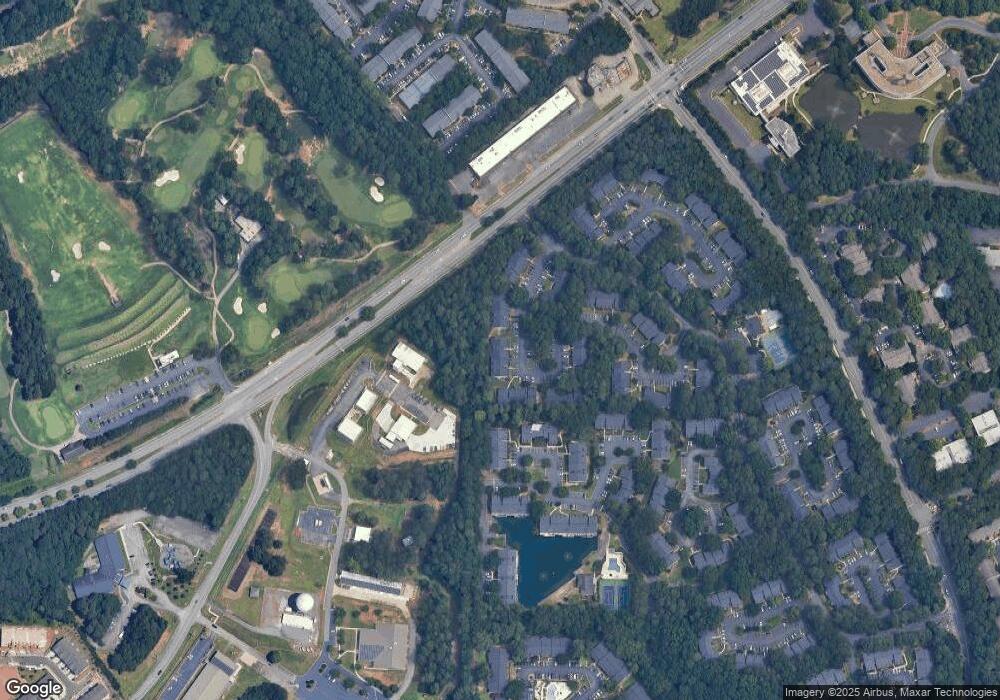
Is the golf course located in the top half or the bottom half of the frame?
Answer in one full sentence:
You can find the golf course in the top half.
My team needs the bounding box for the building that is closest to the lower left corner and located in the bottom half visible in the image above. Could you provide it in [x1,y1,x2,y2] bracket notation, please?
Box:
[18,671,61,700]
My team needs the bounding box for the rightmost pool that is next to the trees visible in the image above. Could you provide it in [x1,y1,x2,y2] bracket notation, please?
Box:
[935,283,951,298]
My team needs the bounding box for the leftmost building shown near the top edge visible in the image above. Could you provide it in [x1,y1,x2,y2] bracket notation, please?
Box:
[305,0,354,44]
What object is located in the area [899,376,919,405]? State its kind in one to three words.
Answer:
house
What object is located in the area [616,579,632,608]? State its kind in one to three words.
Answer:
tennis court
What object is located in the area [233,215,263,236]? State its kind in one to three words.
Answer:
building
